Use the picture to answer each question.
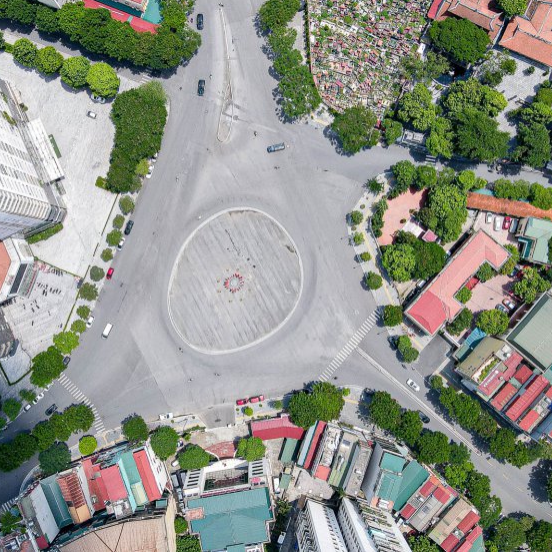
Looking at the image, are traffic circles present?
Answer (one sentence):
Yes, a traffic circle can be made out from above.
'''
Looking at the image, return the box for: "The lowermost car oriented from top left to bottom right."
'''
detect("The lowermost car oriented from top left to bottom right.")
[416,409,431,424]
